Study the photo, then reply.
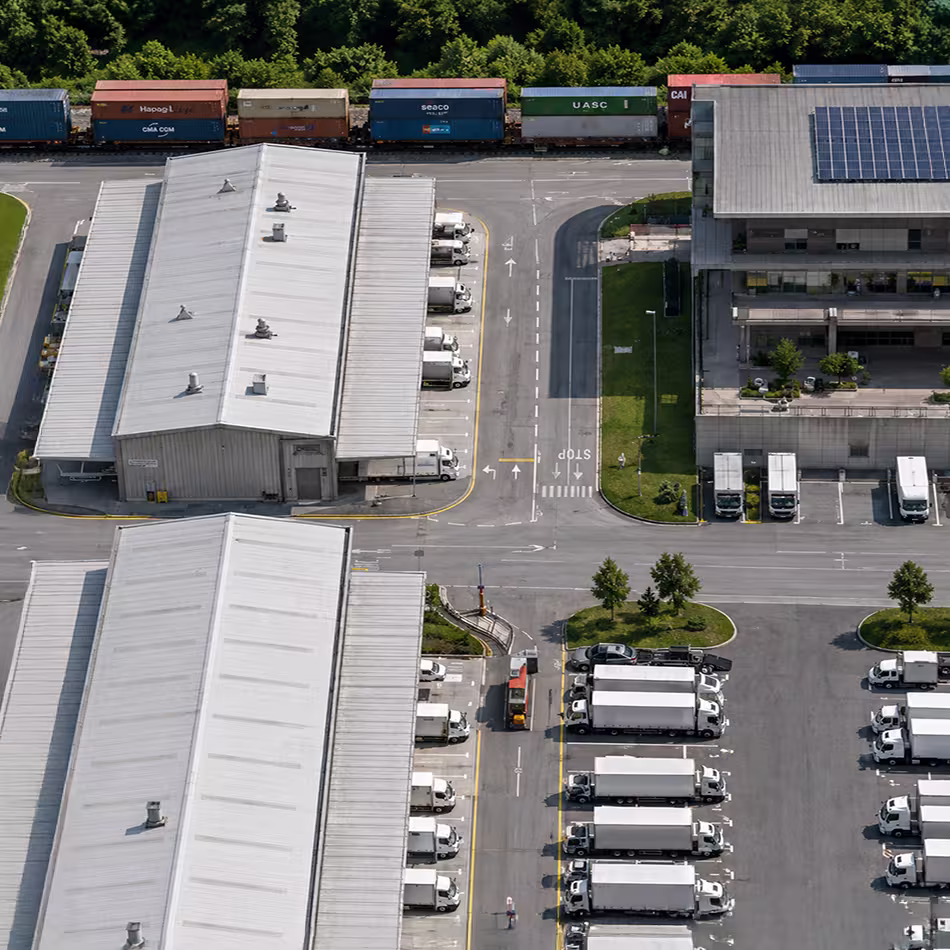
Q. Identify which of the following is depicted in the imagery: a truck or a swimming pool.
truck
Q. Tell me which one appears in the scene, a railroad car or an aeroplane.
railroad car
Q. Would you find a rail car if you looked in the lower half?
No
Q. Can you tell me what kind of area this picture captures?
industrial area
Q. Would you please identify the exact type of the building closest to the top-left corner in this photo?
warehouse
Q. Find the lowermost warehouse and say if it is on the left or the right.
left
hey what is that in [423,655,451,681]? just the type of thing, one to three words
vehicle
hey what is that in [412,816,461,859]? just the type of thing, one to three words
truck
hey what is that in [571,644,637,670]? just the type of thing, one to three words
car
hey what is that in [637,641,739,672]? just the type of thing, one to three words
trailer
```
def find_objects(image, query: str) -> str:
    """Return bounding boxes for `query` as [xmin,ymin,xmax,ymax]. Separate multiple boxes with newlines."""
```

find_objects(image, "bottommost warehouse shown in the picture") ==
[0,514,430,950]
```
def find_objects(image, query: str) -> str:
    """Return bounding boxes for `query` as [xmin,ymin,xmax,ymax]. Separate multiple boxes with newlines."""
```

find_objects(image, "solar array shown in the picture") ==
[801,107,950,186]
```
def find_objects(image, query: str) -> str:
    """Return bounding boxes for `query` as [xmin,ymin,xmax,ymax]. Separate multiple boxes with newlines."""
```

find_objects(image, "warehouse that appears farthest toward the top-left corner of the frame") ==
[32,142,442,502]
